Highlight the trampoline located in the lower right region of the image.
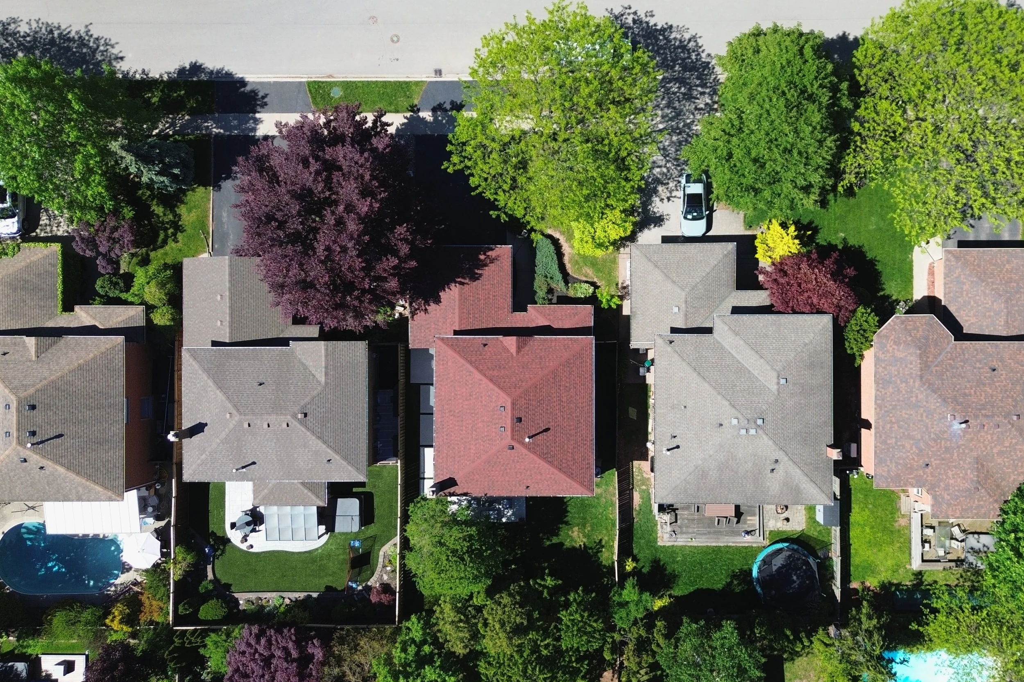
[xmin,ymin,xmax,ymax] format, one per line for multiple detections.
[750,539,828,617]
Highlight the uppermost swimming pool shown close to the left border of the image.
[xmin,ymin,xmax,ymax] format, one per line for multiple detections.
[0,518,125,598]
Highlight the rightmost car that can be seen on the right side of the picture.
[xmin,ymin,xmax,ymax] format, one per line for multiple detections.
[679,170,711,238]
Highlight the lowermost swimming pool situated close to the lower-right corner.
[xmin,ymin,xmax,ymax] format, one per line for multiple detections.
[880,647,1006,682]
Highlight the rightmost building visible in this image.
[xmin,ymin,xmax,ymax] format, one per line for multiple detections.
[850,247,1024,520]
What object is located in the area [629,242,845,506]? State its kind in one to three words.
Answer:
house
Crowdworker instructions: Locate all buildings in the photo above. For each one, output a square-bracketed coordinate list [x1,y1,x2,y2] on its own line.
[407,244,596,499]
[166,256,376,508]
[0,244,158,503]
[629,242,845,506]
[850,247,1024,520]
